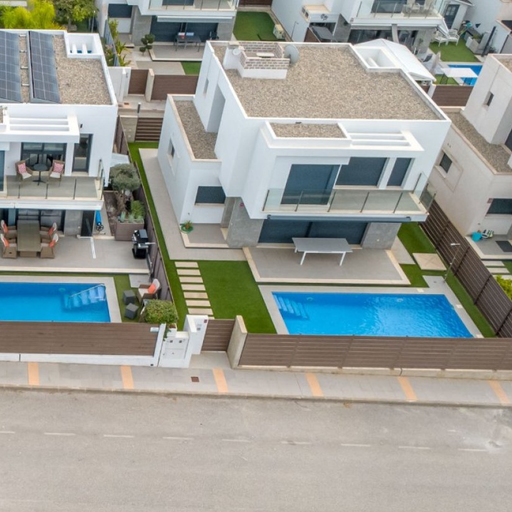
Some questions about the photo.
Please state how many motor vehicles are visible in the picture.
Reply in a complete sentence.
The count of motor vehicles is 0.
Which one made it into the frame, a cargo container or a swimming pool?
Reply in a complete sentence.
It is a swimming pool that can be seen here.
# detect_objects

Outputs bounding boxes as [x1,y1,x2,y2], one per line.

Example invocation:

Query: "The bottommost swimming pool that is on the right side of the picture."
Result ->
[260,285,471,343]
